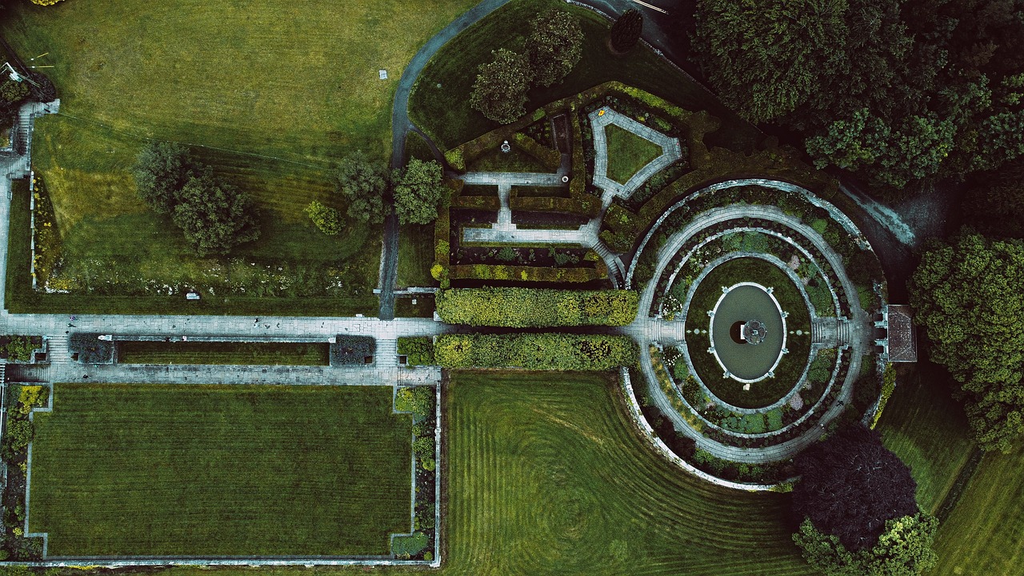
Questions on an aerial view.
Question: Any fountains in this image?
Yes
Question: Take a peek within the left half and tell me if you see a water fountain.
No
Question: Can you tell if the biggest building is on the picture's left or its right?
right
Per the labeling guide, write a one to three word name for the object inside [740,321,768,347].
fountain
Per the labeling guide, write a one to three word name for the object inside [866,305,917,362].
building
